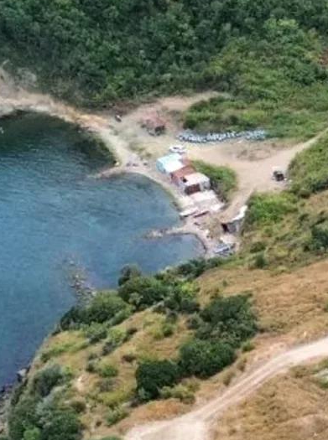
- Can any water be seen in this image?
Yes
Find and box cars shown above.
[275,167,283,179]
[170,145,187,154]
